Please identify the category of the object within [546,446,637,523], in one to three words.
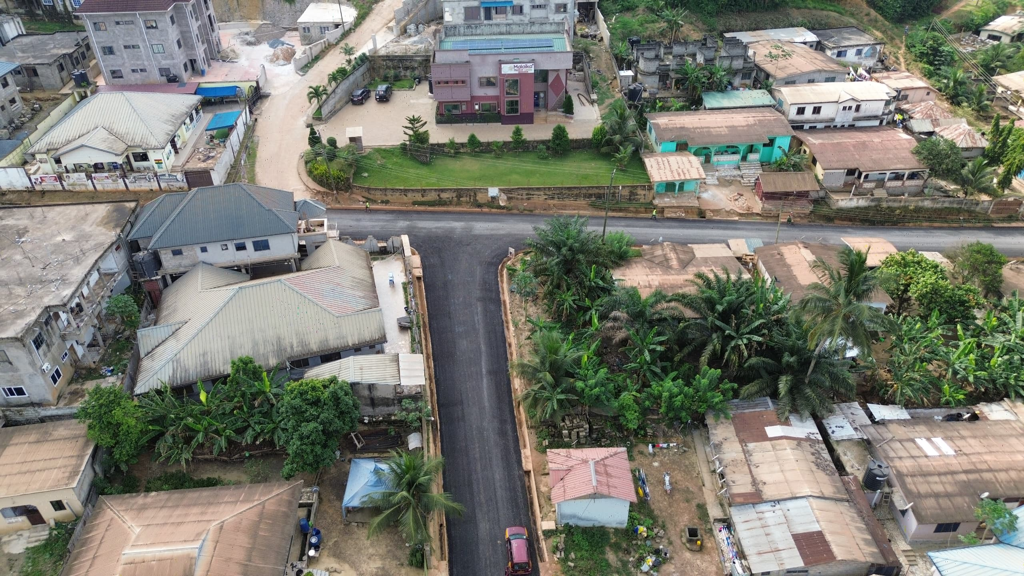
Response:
house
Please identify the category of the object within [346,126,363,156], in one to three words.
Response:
shed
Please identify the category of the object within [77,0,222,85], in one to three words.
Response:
building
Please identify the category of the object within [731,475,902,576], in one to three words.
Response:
house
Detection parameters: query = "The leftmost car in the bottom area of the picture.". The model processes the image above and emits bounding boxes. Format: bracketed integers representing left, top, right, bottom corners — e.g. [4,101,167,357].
[503,525,531,576]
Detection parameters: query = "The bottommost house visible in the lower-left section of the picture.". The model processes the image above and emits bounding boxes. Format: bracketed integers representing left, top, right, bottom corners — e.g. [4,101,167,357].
[61,479,303,576]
